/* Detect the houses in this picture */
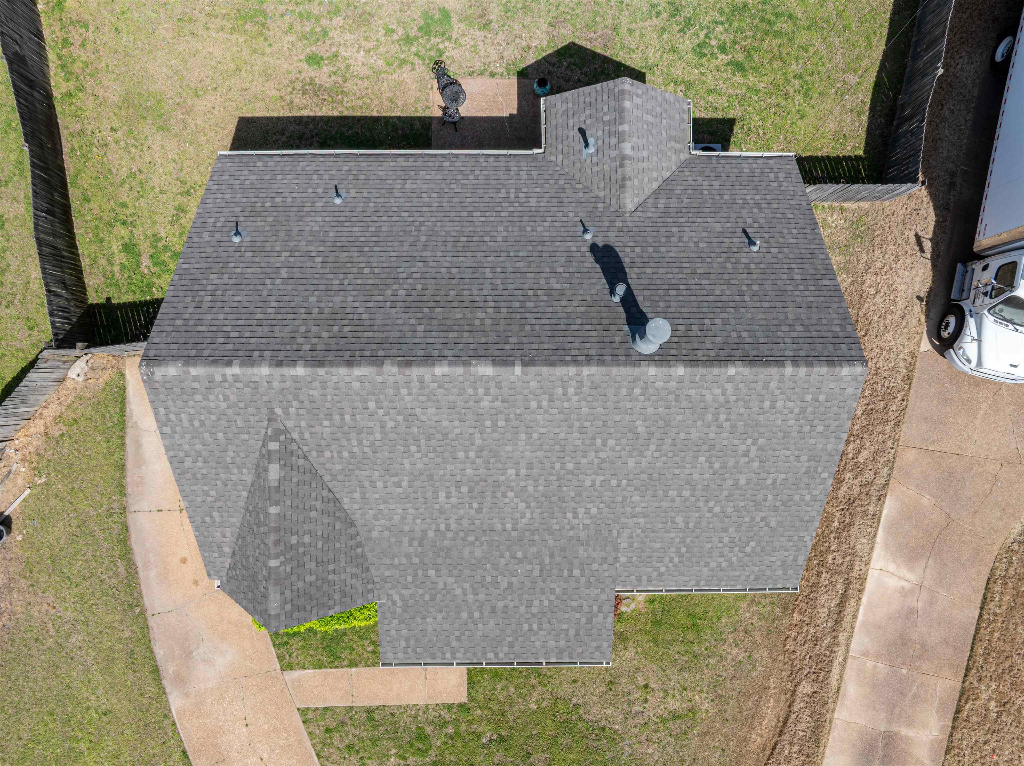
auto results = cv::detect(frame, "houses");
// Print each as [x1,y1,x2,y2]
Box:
[138,77,868,668]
